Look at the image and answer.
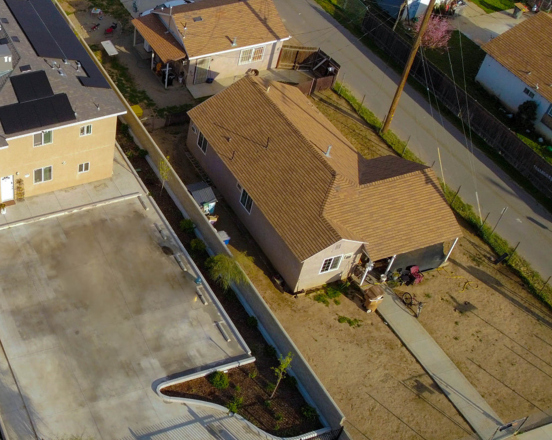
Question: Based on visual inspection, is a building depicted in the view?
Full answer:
Yes, looking at the shot, I can spot a building.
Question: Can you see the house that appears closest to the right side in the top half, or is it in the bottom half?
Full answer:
The top half of the photo is where the house that appears closest to the right side is.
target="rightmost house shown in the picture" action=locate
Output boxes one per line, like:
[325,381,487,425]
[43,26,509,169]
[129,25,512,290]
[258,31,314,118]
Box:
[472,11,552,142]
